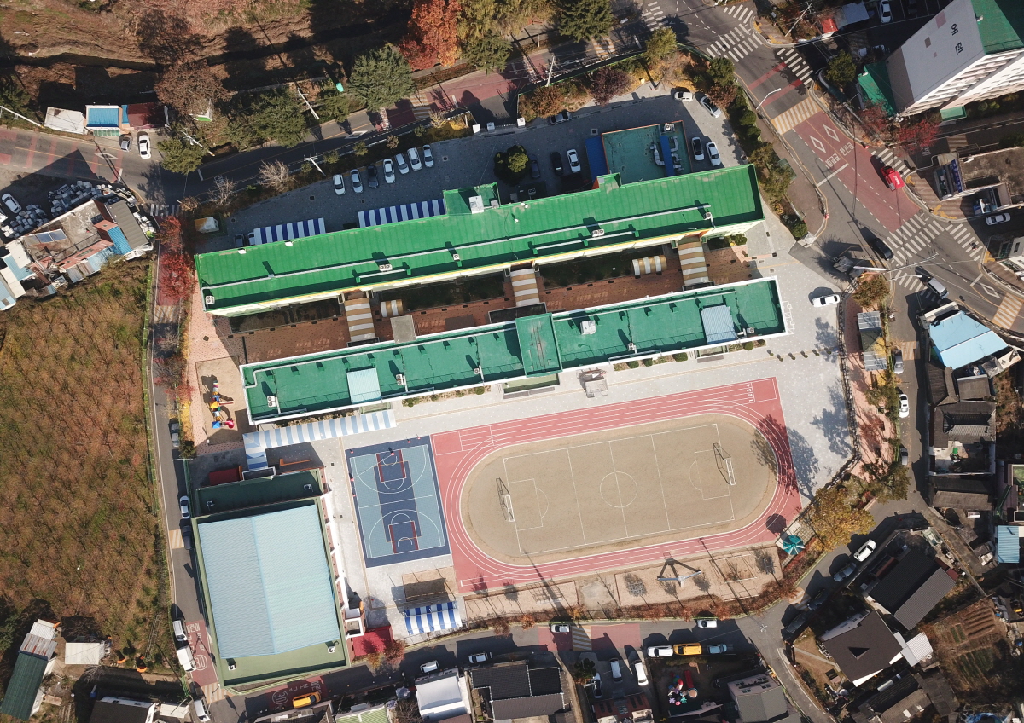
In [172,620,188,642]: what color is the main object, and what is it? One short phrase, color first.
white car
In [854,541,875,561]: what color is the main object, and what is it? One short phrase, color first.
white car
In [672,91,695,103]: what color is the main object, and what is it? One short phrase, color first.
white vehicle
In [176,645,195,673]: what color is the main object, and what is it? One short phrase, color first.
white vehicle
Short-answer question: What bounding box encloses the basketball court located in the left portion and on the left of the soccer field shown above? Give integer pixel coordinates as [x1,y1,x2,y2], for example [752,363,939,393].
[345,436,451,568]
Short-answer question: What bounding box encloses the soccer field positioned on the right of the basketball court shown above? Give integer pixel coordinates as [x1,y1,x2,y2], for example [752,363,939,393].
[462,412,776,565]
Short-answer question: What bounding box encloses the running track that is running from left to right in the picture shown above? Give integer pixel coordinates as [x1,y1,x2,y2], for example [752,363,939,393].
[432,377,802,593]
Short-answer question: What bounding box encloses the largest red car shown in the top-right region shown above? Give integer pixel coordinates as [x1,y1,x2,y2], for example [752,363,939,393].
[882,168,900,187]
